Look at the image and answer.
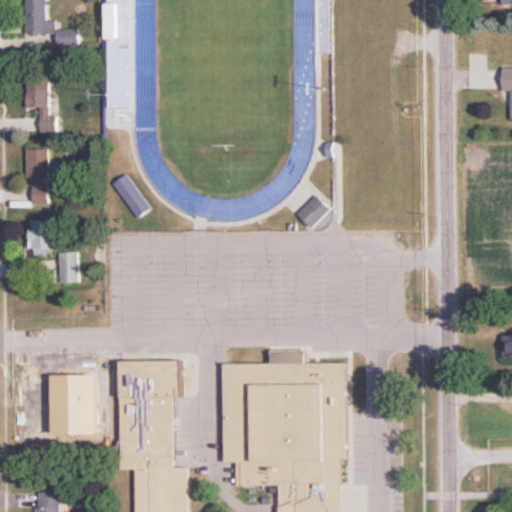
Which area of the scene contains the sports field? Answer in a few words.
top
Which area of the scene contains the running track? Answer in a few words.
top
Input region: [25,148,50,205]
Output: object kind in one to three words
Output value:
house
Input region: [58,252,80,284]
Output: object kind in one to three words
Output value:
house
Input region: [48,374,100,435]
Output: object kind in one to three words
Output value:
shed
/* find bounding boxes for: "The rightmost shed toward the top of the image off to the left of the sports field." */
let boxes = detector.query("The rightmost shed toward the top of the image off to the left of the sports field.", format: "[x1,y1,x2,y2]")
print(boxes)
[113,174,152,218]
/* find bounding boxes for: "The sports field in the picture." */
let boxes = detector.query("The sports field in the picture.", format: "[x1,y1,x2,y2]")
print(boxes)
[156,0,294,199]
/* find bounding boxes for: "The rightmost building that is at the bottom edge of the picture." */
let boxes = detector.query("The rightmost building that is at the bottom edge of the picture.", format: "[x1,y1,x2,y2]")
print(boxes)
[222,352,348,512]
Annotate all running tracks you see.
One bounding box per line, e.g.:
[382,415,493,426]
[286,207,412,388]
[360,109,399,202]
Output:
[136,0,314,220]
